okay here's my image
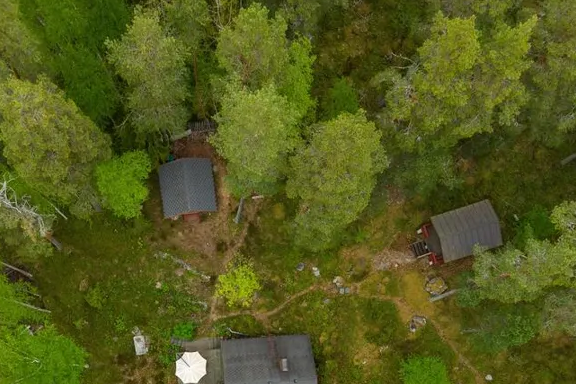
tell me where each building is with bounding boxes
[160,158,217,225]
[221,333,318,384]
[406,199,503,266]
